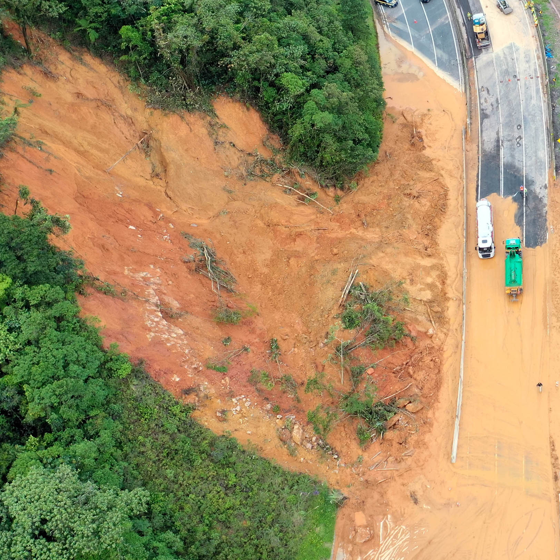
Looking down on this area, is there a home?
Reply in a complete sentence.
No, I find no home anywhere in the image.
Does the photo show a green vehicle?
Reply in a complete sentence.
Yes, a green vehicle is visible in the scene.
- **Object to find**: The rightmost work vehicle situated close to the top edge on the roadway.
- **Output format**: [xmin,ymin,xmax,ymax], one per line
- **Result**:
[496,0,514,14]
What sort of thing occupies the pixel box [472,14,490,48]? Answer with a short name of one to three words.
vehicle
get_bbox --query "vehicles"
[476,200,497,257]
[496,0,514,14]
[472,14,490,48]
[373,0,398,8]
[502,238,528,306]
